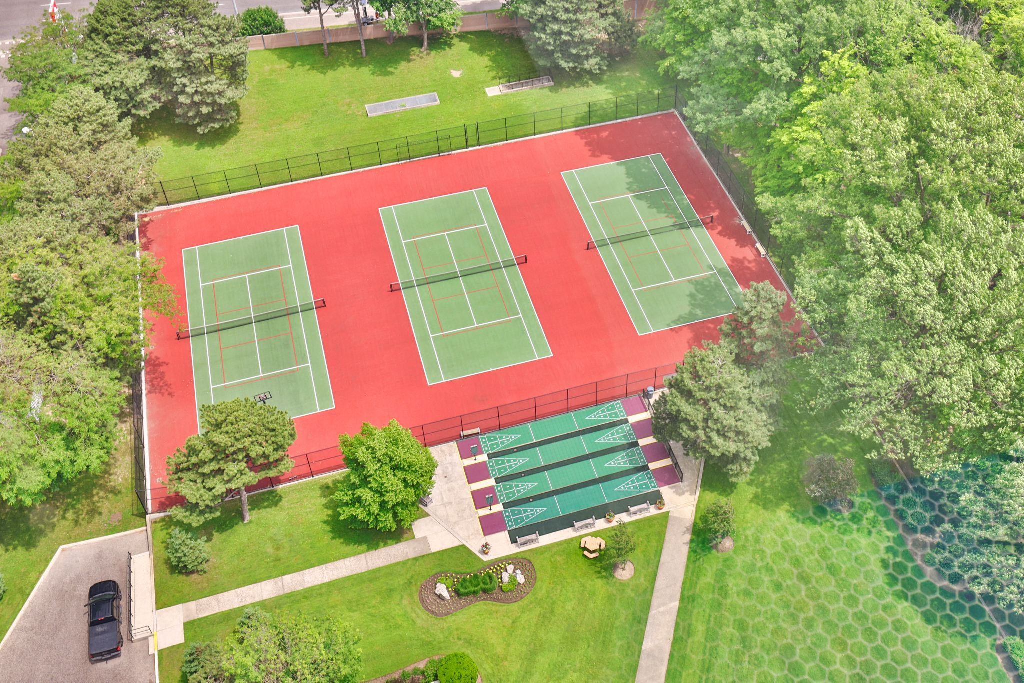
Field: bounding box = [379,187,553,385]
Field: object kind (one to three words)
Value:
tennis court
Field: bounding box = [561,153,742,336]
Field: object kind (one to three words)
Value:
tennis court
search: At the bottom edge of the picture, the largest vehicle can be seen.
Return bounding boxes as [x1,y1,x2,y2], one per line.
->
[83,581,125,663]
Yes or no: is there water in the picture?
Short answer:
No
